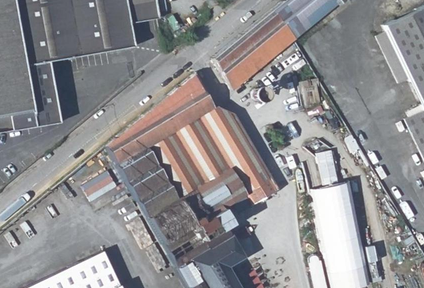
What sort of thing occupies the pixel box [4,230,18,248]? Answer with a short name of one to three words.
vehicle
